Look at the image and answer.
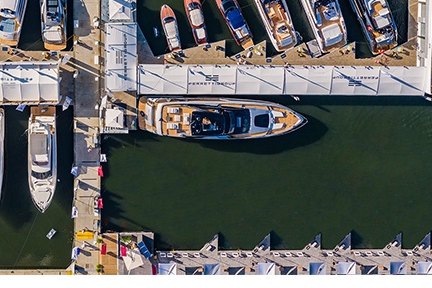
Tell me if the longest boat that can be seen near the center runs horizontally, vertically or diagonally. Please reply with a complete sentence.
The longest boat that can be seen near the center is oriented horizontally.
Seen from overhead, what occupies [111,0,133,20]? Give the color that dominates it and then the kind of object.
white tent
